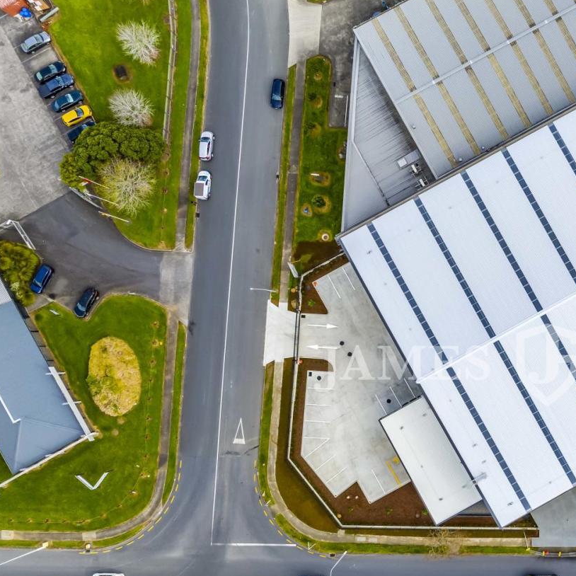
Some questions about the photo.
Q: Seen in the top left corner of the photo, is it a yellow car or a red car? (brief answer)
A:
yellow car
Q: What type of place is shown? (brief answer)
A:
industrial area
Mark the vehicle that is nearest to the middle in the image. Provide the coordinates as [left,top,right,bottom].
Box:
[195,169,211,201]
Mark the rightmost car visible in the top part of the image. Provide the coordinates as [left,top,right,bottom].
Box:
[269,77,285,108]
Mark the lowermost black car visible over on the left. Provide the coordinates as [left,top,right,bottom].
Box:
[75,285,100,318]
